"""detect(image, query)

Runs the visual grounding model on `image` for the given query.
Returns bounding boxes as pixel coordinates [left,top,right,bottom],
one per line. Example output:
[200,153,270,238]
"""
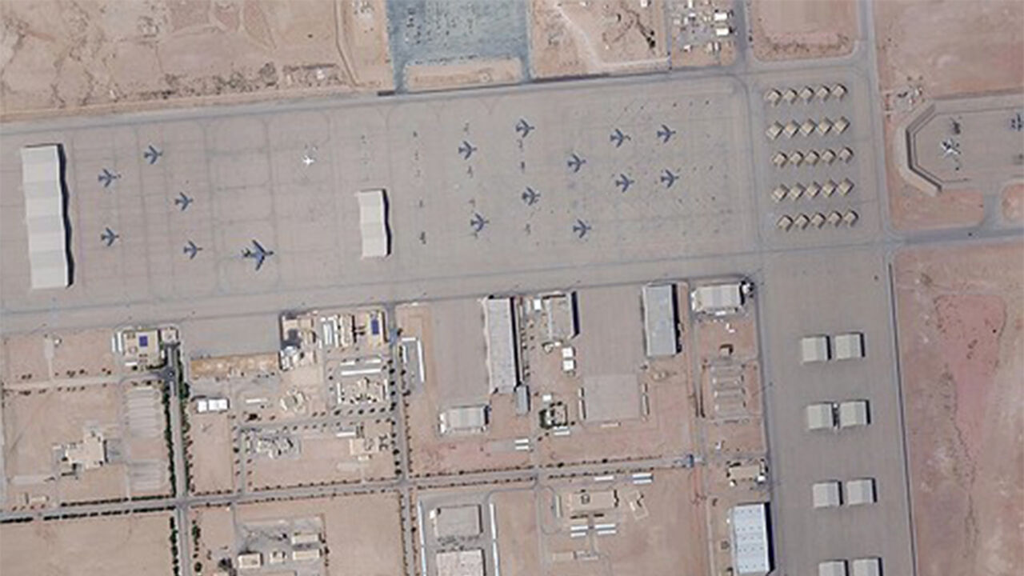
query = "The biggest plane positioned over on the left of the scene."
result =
[240,239,272,270]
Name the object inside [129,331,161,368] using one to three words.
building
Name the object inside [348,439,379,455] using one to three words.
building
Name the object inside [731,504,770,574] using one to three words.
hangar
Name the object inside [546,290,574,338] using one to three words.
hangar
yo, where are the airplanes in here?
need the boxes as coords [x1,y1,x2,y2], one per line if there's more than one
[572,220,591,238]
[303,155,314,166]
[610,129,629,147]
[615,174,633,192]
[521,187,540,205]
[240,239,272,270]
[100,228,119,246]
[657,125,676,143]
[470,213,489,232]
[184,240,202,259]
[660,170,679,188]
[175,192,194,210]
[143,146,162,164]
[515,119,534,137]
[459,140,477,159]
[567,154,586,173]
[99,168,117,187]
